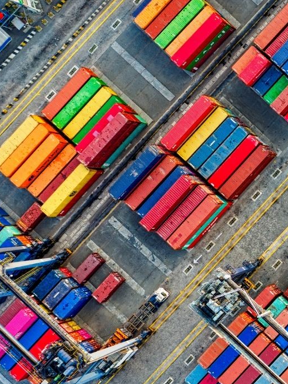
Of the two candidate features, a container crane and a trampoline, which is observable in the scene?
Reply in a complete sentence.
The image shows a container crane.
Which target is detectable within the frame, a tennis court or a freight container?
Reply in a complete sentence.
Of the two, only a freight container appears.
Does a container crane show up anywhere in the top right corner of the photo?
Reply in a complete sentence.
No, in the top right corner of the photo there is no container crane.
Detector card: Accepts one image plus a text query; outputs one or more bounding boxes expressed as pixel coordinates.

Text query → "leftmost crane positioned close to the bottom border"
[0,245,157,384]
